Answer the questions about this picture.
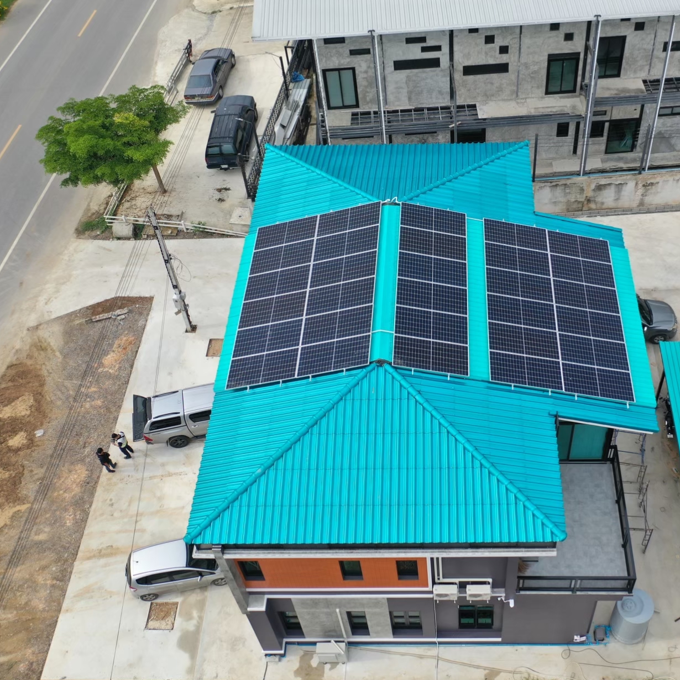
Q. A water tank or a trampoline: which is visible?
water tank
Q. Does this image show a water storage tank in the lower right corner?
Yes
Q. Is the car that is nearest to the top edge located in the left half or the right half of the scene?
left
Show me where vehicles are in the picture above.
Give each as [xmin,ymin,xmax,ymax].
[207,96,260,166]
[128,383,220,449]
[126,535,224,601]
[186,45,236,103]
[637,293,680,345]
